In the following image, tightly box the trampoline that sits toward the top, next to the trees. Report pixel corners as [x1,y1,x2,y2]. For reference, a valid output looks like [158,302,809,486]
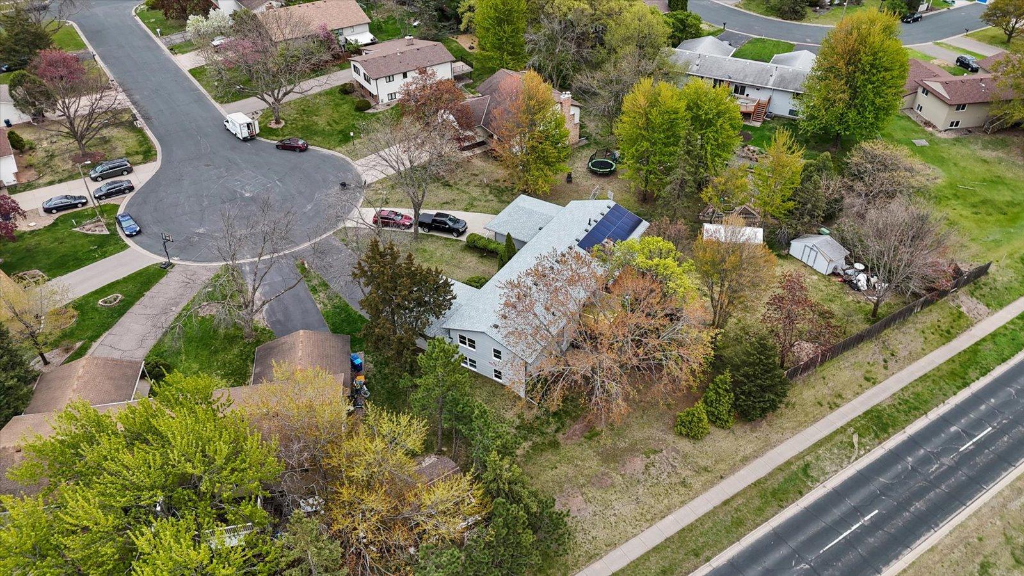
[588,150,619,175]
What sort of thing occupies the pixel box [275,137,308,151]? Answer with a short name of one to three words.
car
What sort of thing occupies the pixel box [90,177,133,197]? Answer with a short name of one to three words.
car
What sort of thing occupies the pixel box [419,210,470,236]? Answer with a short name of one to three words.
truck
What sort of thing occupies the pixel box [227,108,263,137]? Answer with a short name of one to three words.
van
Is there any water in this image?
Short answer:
No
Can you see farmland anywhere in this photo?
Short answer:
No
